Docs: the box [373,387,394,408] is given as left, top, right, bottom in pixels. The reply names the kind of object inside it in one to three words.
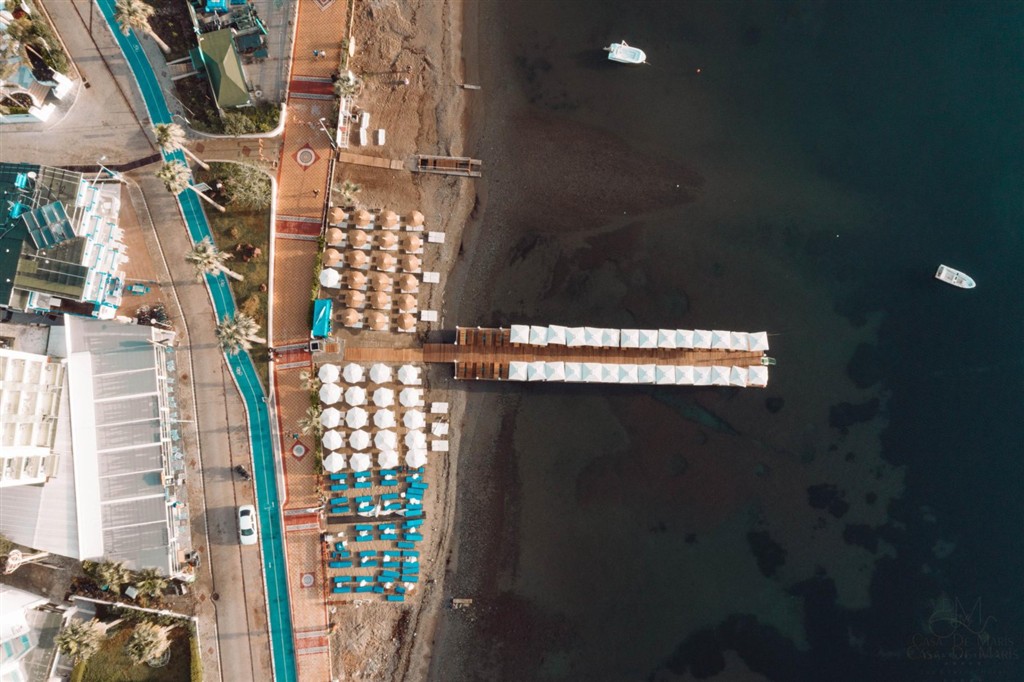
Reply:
umbrella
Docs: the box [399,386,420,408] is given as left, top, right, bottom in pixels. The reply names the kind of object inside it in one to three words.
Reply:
umbrella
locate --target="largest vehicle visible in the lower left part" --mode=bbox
[236,504,258,547]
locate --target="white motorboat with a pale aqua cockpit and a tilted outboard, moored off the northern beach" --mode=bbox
[603,40,650,62]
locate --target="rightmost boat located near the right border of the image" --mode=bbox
[934,264,977,286]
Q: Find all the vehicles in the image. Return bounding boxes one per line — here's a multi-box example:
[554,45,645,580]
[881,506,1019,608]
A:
[232,463,251,482]
[236,504,258,547]
[191,552,203,571]
[183,548,196,568]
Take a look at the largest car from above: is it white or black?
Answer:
white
